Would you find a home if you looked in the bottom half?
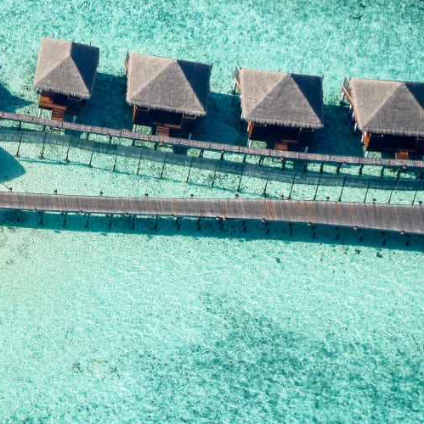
No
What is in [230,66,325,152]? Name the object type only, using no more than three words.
house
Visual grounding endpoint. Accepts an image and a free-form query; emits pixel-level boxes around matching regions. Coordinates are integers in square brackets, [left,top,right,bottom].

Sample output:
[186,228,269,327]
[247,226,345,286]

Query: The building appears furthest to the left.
[31,38,100,122]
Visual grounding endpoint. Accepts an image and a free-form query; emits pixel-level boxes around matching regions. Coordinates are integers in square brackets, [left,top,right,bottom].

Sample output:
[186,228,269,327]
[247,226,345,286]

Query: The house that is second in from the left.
[123,52,214,139]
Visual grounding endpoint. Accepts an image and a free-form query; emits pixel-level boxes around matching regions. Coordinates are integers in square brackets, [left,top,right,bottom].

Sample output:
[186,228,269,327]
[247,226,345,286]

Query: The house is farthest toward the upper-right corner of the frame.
[339,78,424,160]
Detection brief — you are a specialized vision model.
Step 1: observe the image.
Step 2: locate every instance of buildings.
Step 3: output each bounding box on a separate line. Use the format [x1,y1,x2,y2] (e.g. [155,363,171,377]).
[31,38,100,122]
[123,52,214,139]
[339,78,424,160]
[230,66,325,152]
